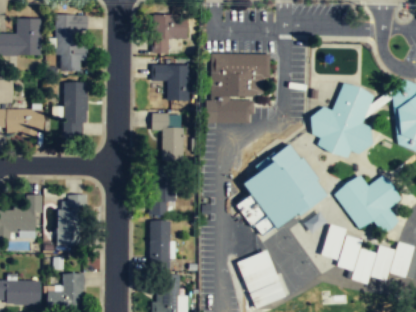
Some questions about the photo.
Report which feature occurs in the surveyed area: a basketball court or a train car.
basketball court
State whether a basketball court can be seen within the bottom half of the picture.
Yes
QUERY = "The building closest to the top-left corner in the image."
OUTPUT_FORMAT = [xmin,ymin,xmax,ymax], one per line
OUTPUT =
[0,17,41,54]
